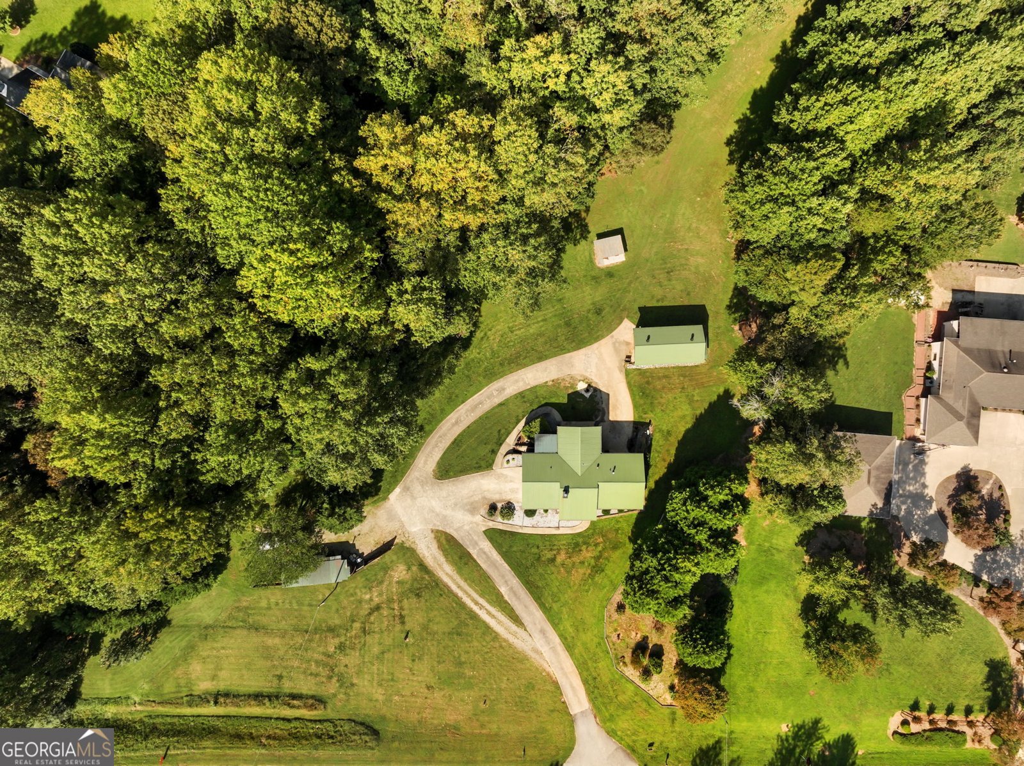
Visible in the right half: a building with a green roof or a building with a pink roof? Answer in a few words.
building with a green roof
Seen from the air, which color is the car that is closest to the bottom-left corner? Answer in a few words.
black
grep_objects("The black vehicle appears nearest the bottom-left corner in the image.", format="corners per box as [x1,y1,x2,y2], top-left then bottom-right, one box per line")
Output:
[344,550,367,571]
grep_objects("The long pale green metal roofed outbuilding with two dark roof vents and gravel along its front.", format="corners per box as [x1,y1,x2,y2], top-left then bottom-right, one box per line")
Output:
[631,325,705,366]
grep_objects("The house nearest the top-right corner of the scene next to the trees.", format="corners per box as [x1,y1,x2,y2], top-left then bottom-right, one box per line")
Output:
[908,316,1024,446]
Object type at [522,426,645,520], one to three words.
house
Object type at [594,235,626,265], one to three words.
shed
